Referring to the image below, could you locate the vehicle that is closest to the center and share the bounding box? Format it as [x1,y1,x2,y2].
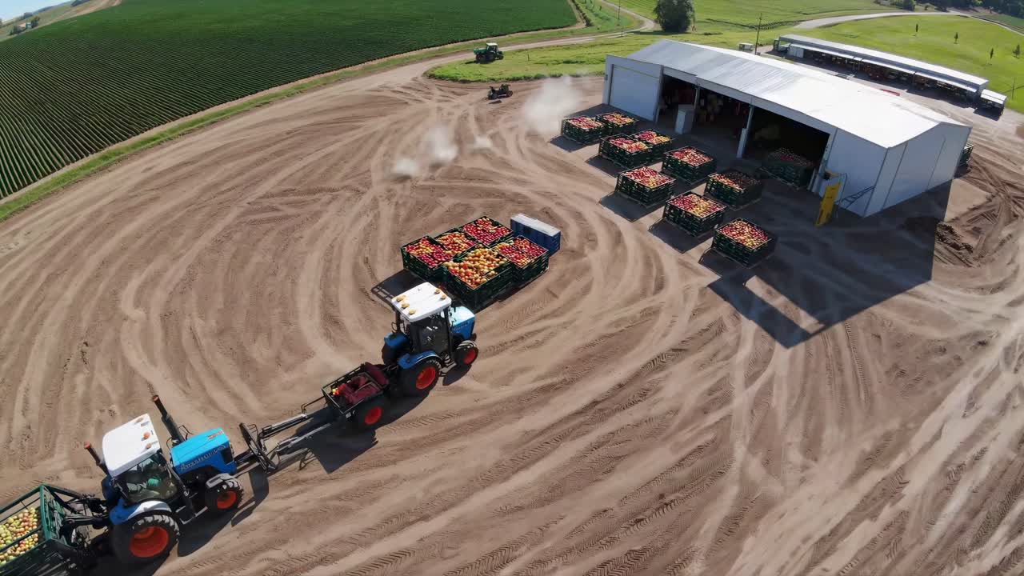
[375,286,474,391]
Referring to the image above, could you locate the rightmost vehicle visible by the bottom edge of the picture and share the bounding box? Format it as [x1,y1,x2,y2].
[72,402,247,556]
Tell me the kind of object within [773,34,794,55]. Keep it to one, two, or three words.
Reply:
truck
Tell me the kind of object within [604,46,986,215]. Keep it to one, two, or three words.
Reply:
barn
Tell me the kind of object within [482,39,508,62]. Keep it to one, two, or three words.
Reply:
work vehicle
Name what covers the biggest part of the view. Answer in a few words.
paved ground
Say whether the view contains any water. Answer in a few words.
No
